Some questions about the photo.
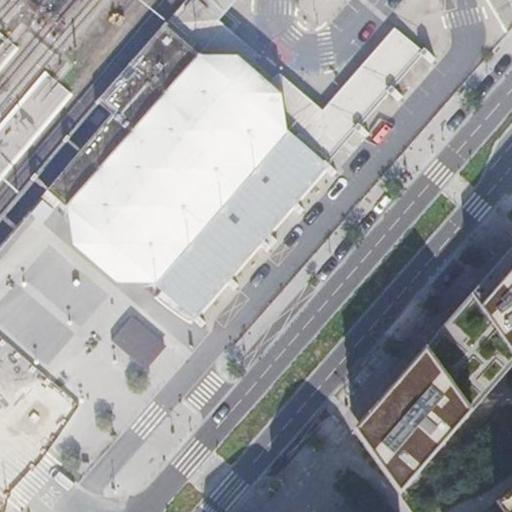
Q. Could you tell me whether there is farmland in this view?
No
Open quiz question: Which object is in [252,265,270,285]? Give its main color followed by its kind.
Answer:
gray car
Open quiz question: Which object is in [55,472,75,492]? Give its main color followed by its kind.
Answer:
white vehicle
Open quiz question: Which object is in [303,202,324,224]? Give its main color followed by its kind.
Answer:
gray car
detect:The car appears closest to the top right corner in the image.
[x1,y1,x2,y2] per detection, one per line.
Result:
[492,54,512,76]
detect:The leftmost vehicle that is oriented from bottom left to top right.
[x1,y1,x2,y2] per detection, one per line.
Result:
[212,402,230,422]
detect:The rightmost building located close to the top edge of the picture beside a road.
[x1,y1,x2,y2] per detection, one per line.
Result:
[282,26,422,162]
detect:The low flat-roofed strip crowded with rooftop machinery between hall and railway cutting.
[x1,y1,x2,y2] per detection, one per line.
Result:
[48,23,196,203]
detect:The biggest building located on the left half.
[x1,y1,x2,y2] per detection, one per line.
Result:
[66,52,330,324]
